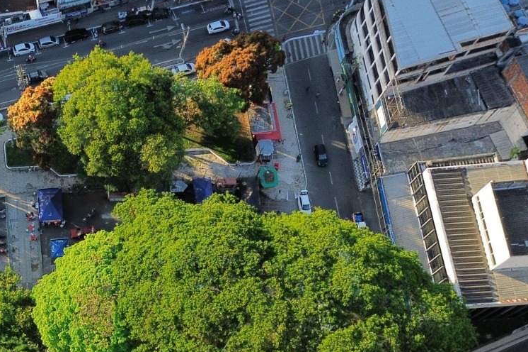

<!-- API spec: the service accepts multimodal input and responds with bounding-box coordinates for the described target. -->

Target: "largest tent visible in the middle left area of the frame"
[37,188,63,228]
